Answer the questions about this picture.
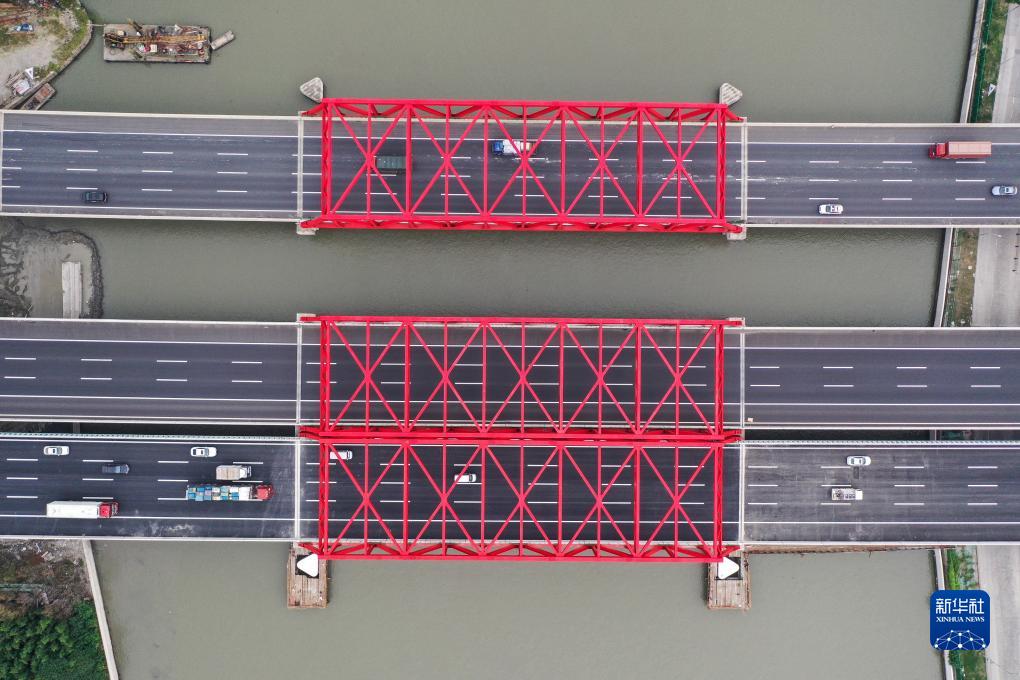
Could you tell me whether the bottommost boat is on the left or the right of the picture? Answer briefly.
left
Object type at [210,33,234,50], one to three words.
boat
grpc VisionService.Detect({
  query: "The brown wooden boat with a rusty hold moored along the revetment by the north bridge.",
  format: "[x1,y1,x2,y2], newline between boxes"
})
[19,80,60,111]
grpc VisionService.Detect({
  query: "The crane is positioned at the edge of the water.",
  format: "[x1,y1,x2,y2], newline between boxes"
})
[104,29,206,52]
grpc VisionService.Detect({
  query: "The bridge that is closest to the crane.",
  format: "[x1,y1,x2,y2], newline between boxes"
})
[0,99,1020,241]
